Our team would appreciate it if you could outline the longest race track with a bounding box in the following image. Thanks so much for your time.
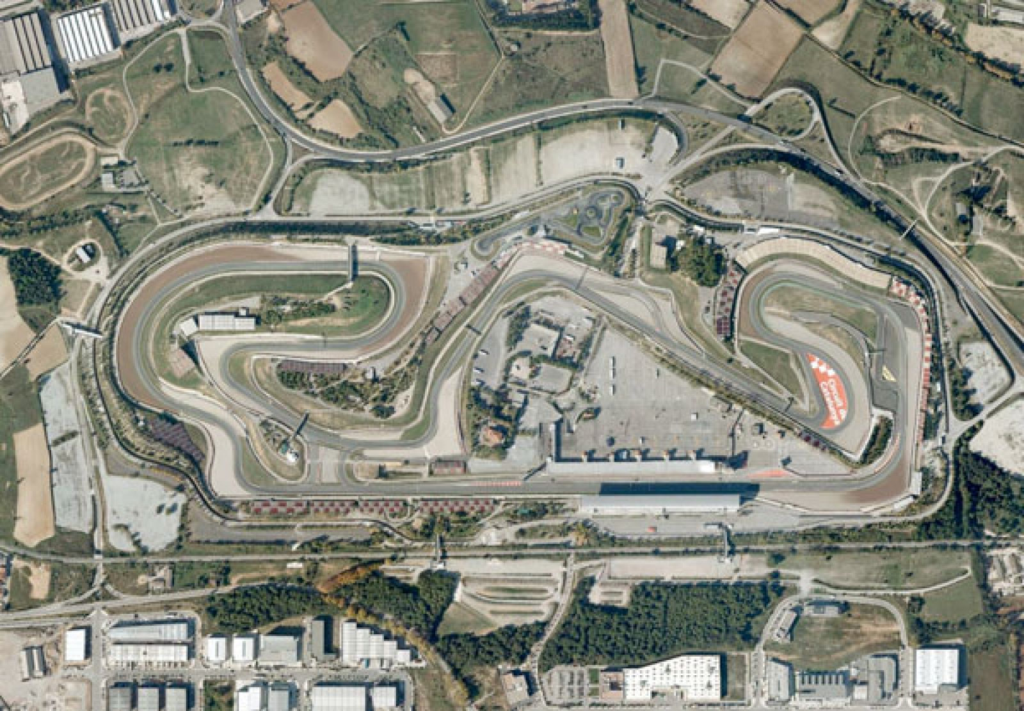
[131,260,906,494]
